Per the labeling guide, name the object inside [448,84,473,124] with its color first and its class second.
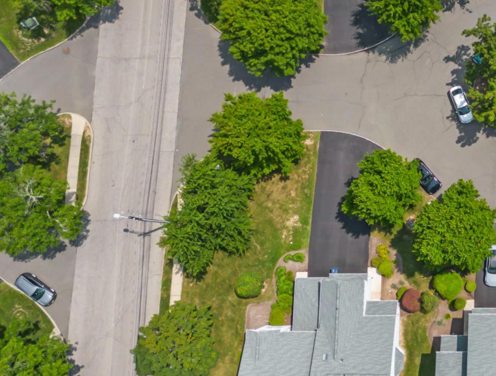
white car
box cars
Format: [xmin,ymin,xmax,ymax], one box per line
[485,245,496,288]
[11,274,56,306]
[448,84,473,124]
[413,156,444,194]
